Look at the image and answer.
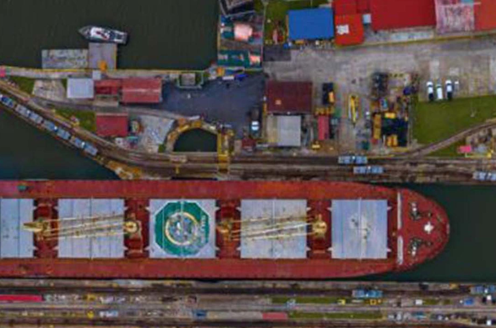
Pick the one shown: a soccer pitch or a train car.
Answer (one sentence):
I can see a train car in this picture.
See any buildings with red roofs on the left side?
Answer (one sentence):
Yes, a building with a red roof appears on the left side.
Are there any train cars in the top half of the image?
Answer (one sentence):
Yes, the scene does show a train car in the top half of the image.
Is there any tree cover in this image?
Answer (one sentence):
No, there is no tree cover in the image.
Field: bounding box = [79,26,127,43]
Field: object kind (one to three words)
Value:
boat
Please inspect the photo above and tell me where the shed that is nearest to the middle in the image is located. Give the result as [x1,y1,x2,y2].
[278,115,301,145]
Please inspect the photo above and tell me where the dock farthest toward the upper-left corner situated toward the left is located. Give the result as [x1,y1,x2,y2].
[42,48,88,69]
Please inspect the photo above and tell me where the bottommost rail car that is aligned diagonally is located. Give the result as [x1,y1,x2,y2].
[68,134,99,156]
